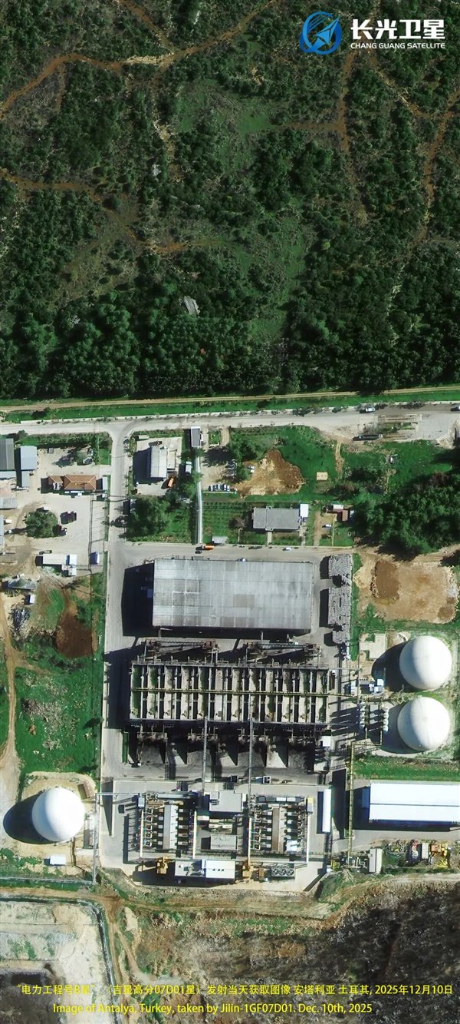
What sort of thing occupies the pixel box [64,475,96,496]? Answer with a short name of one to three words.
house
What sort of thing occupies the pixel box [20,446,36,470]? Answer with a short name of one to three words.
shed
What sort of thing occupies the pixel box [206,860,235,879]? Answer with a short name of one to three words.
house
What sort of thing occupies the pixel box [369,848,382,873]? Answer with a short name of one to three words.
building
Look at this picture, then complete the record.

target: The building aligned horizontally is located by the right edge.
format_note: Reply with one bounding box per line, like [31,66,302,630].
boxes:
[362,782,460,821]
